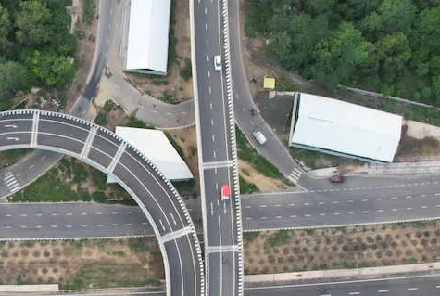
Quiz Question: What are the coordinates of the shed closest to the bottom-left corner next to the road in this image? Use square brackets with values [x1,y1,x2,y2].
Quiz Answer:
[104,126,194,183]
